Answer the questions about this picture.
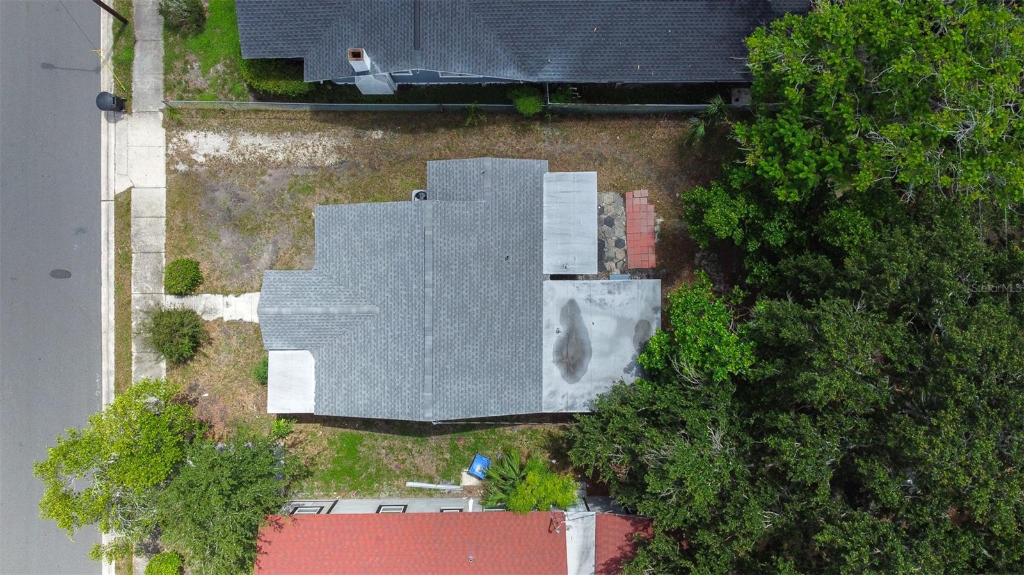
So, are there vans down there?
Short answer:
No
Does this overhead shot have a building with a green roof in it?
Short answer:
No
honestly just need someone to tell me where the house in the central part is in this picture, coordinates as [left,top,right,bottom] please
[256,157,661,426]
